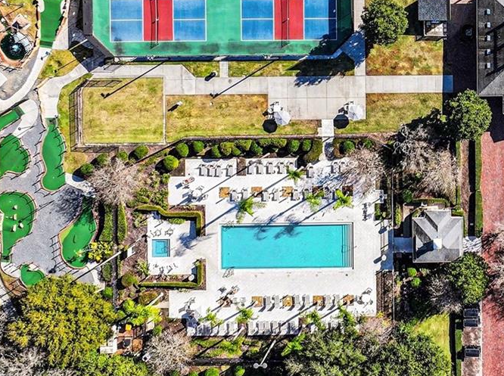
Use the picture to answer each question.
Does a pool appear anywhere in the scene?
Yes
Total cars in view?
zero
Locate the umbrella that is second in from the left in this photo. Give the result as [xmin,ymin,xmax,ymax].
[273,109,290,125]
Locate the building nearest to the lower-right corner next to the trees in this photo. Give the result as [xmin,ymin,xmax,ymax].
[413,209,464,262]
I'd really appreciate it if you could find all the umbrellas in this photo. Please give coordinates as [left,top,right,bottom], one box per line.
[273,109,290,125]
[348,104,363,121]
[181,311,198,329]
